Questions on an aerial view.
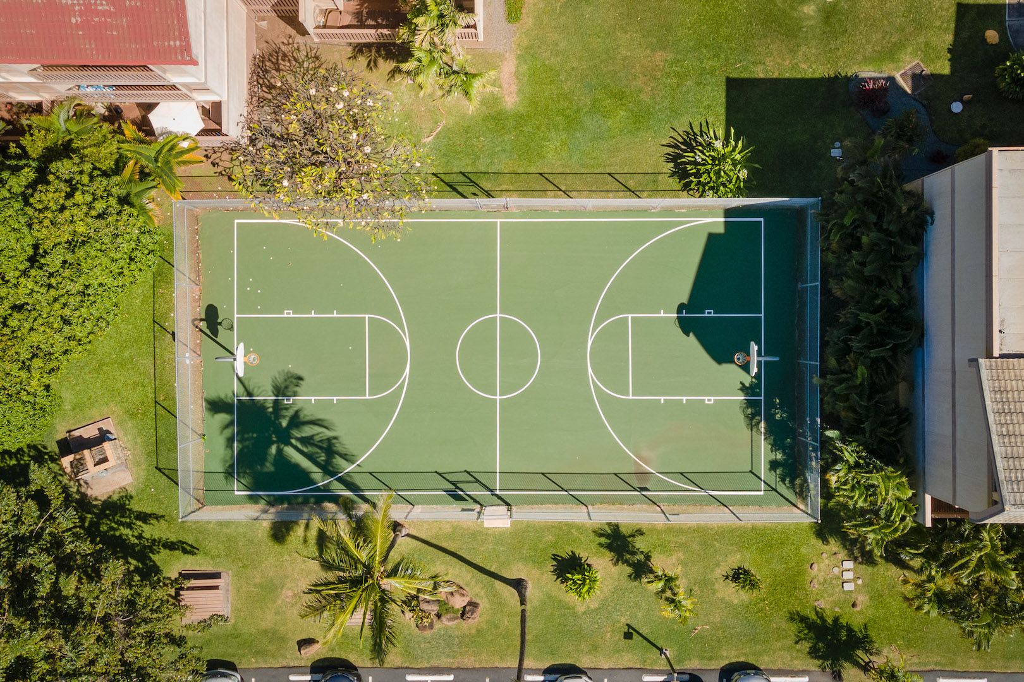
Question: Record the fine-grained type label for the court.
basketball court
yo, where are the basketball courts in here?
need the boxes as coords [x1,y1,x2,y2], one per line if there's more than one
[202,210,796,506]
